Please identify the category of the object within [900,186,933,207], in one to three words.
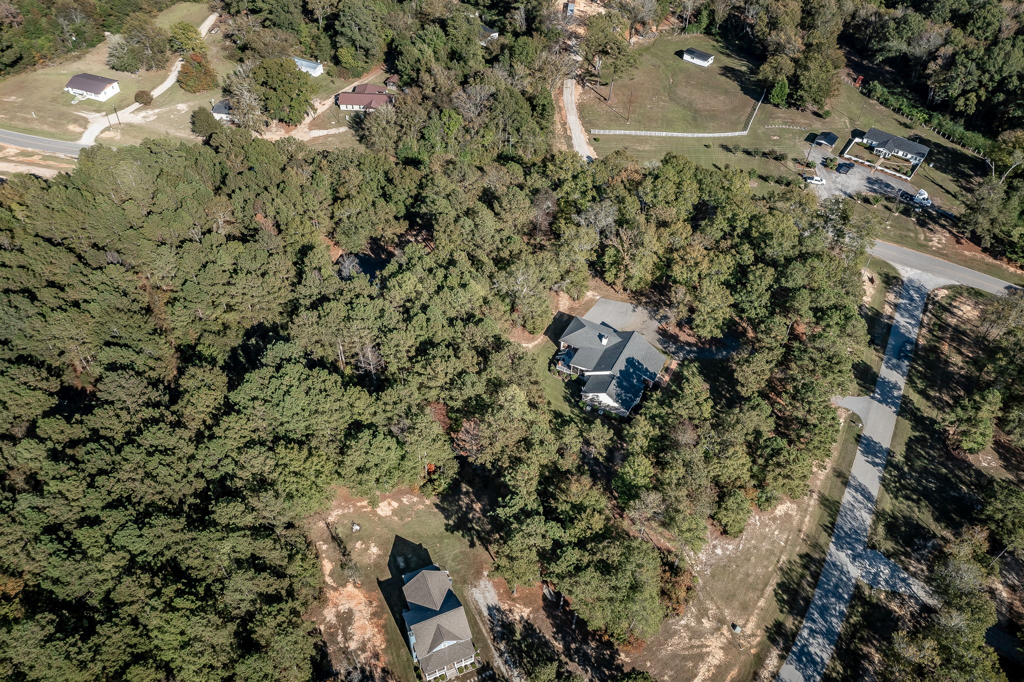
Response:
truck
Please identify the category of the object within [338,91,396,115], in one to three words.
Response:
house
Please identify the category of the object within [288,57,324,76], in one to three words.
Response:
house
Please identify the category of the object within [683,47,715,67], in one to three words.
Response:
shed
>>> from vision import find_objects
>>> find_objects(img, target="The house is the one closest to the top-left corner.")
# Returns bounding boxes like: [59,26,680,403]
[65,75,123,103]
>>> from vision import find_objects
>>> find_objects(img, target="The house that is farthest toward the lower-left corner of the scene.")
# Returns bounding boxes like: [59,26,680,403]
[403,562,482,681]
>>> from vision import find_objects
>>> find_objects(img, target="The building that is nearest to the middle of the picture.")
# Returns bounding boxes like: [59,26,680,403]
[554,316,667,423]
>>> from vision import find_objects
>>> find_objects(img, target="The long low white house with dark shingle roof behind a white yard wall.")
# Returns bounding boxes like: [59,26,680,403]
[863,126,934,167]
